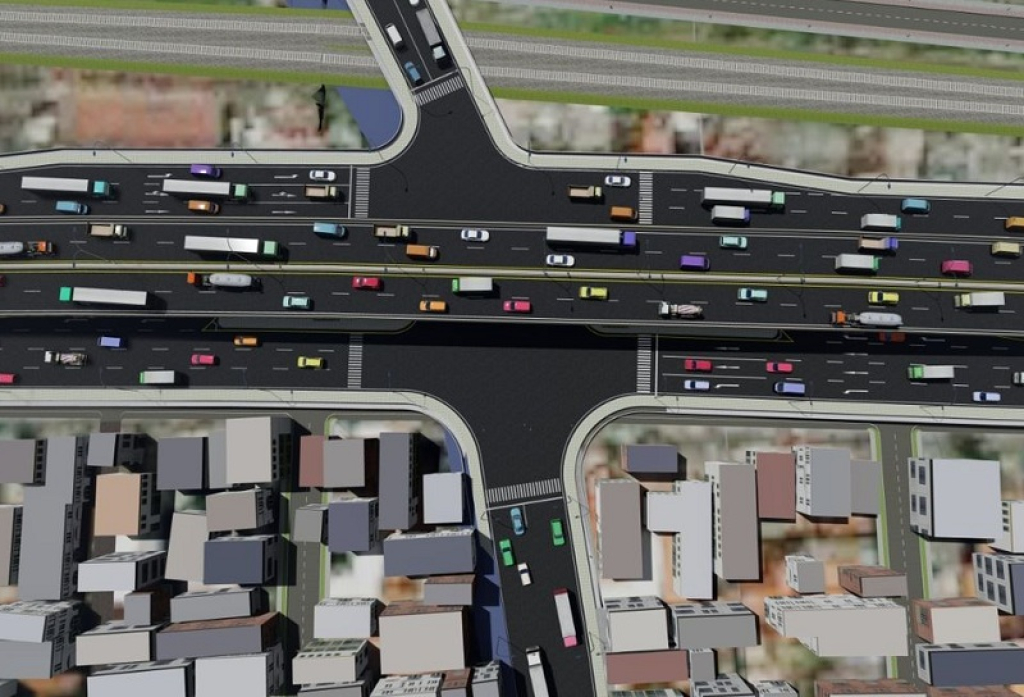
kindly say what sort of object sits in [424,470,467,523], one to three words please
building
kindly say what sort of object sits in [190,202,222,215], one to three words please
vehicle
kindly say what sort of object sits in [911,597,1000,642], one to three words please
building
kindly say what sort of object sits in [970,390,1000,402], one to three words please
vehicle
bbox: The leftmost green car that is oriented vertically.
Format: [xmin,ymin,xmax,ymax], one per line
[500,537,514,565]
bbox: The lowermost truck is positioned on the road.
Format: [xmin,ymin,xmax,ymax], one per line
[526,642,550,697]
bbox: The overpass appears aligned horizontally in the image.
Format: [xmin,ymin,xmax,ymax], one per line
[0,215,1024,338]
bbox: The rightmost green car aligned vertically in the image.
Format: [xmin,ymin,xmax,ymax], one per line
[550,517,564,545]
